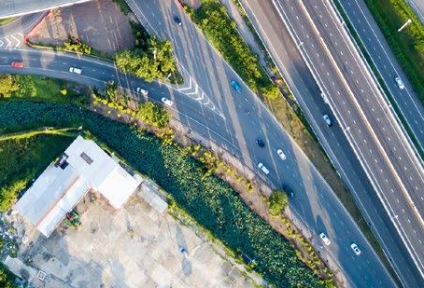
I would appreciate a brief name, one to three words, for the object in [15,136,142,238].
building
